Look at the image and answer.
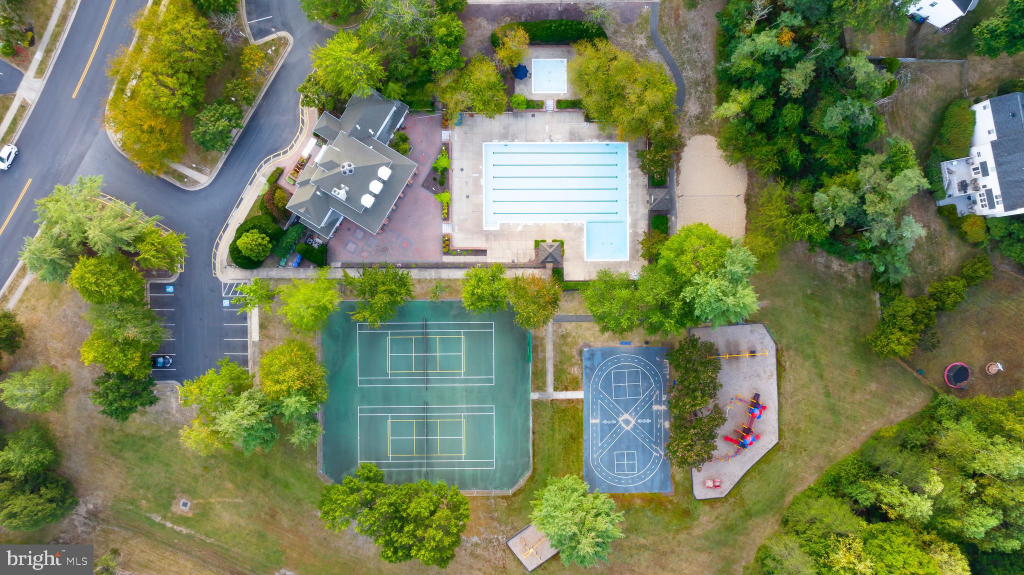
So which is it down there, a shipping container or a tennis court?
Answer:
tennis court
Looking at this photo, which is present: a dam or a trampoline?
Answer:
trampoline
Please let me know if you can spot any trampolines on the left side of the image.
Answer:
No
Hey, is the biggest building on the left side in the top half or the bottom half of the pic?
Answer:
top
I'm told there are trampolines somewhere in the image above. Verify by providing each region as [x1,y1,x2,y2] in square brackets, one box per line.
[945,362,975,389]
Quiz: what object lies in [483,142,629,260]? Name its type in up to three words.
swimming pool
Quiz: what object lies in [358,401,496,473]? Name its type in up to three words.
tennis court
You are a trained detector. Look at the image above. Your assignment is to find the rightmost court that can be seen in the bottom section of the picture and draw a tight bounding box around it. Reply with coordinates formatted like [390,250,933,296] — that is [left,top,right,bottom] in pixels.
[583,347,671,493]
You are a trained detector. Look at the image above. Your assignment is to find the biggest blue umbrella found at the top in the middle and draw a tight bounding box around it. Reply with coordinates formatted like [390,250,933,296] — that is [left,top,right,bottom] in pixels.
[513,64,529,80]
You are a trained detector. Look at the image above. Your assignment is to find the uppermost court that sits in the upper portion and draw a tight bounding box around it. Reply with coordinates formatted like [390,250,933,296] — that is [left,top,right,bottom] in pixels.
[677,135,747,249]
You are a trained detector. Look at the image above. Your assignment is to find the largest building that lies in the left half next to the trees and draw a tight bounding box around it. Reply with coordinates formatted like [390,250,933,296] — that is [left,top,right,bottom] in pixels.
[285,84,418,239]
